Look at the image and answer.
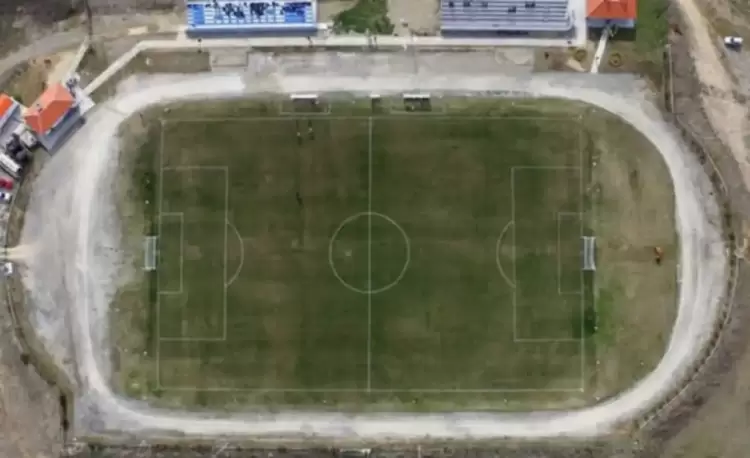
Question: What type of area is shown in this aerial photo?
sports ground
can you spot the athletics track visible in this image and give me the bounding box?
[71,76,721,440]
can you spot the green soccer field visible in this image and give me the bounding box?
[155,112,587,396]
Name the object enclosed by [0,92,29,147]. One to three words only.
house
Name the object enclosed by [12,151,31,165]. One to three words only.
vehicle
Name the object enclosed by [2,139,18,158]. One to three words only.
car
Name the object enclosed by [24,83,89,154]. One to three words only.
house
